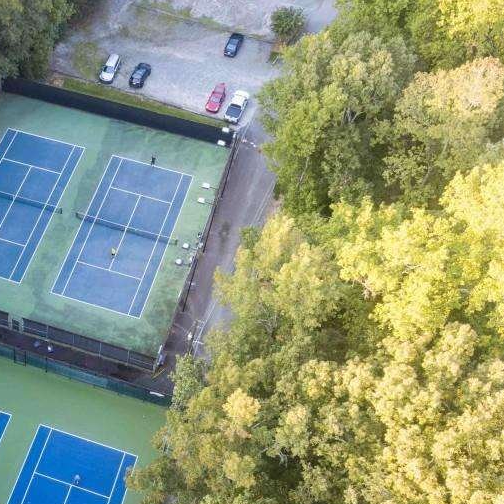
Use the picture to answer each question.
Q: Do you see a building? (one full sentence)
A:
No, the scene contains no building.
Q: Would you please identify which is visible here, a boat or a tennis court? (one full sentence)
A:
Of the two, only a tennis court appears.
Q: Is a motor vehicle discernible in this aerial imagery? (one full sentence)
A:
Yes, a motor vehicle can be made out from above.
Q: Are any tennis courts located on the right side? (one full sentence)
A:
No, on the right side there is no tennis court.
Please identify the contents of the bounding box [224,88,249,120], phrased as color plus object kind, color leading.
white truck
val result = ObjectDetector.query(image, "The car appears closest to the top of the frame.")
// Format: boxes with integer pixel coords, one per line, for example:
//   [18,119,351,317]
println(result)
[222,27,246,56]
